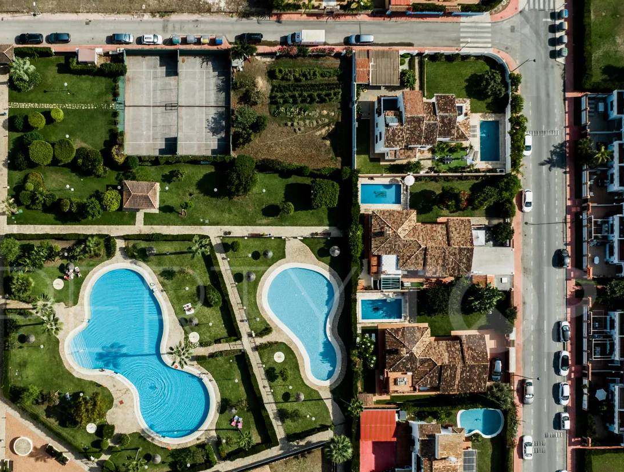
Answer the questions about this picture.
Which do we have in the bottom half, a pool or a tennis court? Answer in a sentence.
The one visible in the bottom half is a pool.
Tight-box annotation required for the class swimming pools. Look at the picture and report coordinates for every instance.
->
[262,262,342,386]
[457,408,504,437]
[360,183,403,205]
[478,119,502,162]
[360,297,405,322]
[66,264,215,443]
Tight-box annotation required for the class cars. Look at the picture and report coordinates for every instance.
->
[490,359,503,379]
[49,32,71,44]
[559,321,570,341]
[558,248,569,268]
[111,32,134,44]
[559,412,570,430]
[141,33,163,44]
[521,435,534,459]
[524,134,534,157]
[557,351,571,376]
[523,379,535,404]
[521,189,534,212]
[349,32,374,45]
[239,32,263,44]
[558,382,572,405]
[18,32,42,45]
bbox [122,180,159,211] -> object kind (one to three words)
gazebo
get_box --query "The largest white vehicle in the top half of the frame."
[288,28,325,45]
